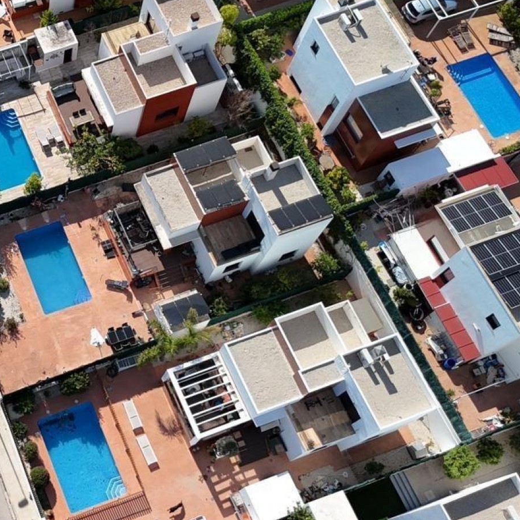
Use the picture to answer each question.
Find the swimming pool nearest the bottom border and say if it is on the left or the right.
left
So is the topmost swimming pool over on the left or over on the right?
right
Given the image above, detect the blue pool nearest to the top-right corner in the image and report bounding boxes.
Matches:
[446,50,520,140]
